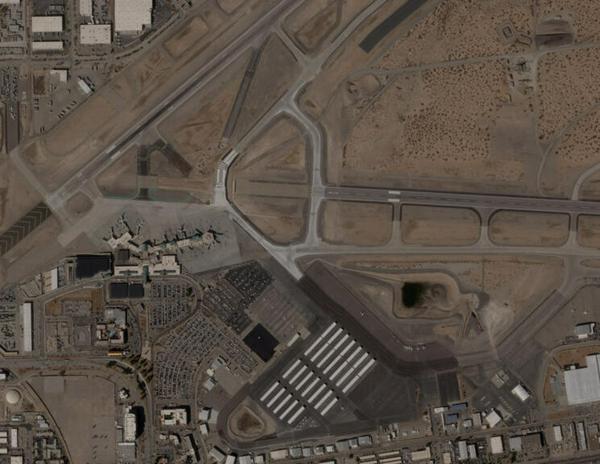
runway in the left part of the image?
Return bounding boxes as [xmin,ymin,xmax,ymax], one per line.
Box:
[0,0,309,254]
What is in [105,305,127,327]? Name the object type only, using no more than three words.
building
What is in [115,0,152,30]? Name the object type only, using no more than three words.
building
